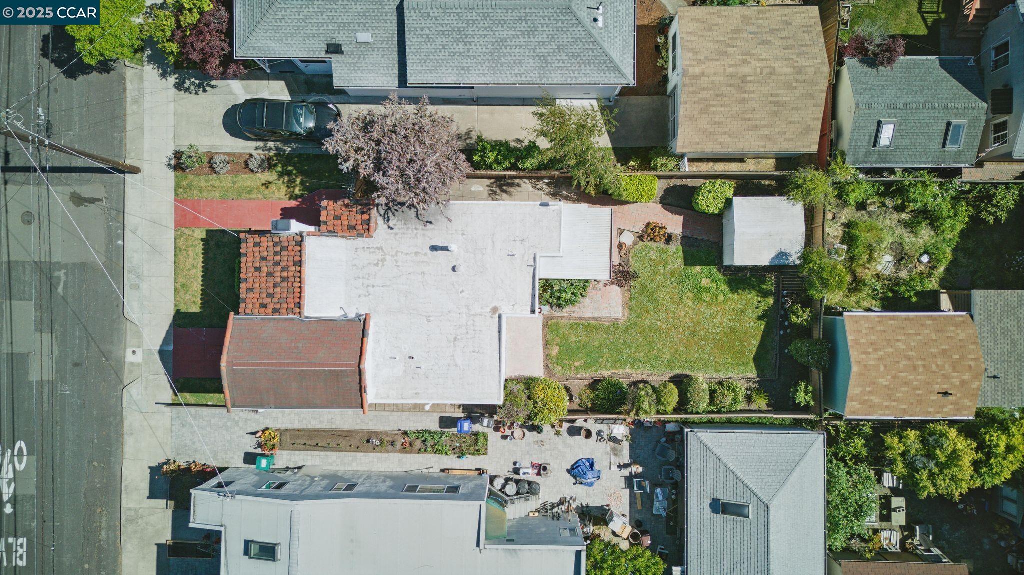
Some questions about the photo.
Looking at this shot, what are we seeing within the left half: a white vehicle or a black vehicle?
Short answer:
black vehicle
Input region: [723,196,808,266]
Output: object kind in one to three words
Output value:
shed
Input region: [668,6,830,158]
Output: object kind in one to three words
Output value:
building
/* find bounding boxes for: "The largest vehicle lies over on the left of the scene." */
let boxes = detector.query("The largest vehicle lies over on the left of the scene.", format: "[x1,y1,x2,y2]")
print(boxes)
[239,97,342,141]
